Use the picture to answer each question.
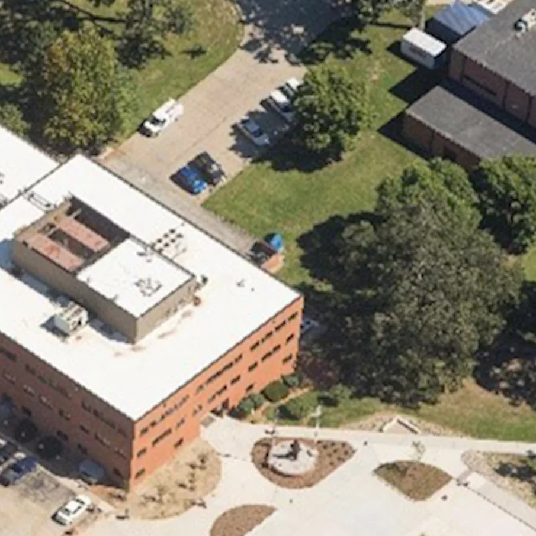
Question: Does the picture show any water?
No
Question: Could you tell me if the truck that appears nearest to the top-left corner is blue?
No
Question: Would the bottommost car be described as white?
Yes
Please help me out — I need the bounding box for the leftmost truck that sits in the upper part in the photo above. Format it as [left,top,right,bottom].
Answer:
[141,100,185,135]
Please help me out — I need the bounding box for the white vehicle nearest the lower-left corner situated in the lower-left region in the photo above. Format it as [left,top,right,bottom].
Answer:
[54,495,93,527]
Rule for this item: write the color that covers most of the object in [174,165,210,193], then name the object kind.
blue car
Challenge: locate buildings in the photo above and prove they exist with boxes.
[402,0,536,172]
[0,125,302,492]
